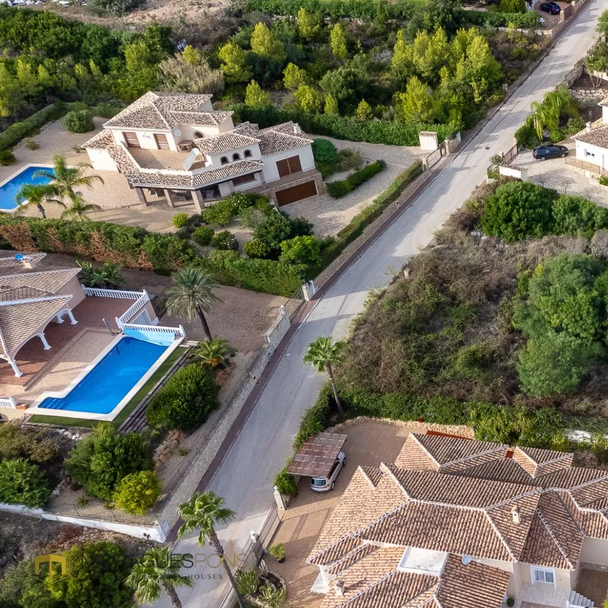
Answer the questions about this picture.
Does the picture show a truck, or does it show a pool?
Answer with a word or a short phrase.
pool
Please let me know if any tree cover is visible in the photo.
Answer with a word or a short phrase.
Yes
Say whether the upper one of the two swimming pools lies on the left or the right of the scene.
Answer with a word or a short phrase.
left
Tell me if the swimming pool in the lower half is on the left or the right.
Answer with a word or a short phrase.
left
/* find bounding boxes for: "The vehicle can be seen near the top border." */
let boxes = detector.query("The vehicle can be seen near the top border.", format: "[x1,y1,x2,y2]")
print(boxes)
[538,1,561,14]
